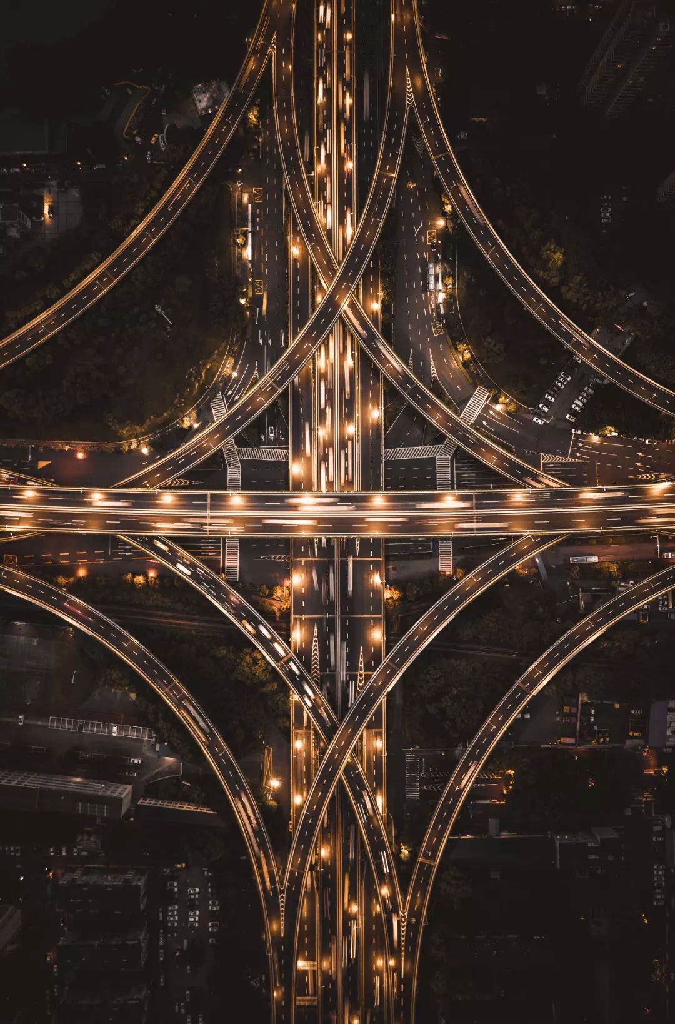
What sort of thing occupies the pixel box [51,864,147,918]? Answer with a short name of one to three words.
building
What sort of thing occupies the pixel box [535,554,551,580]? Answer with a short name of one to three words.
vehicle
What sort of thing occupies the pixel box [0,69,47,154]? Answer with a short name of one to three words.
building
